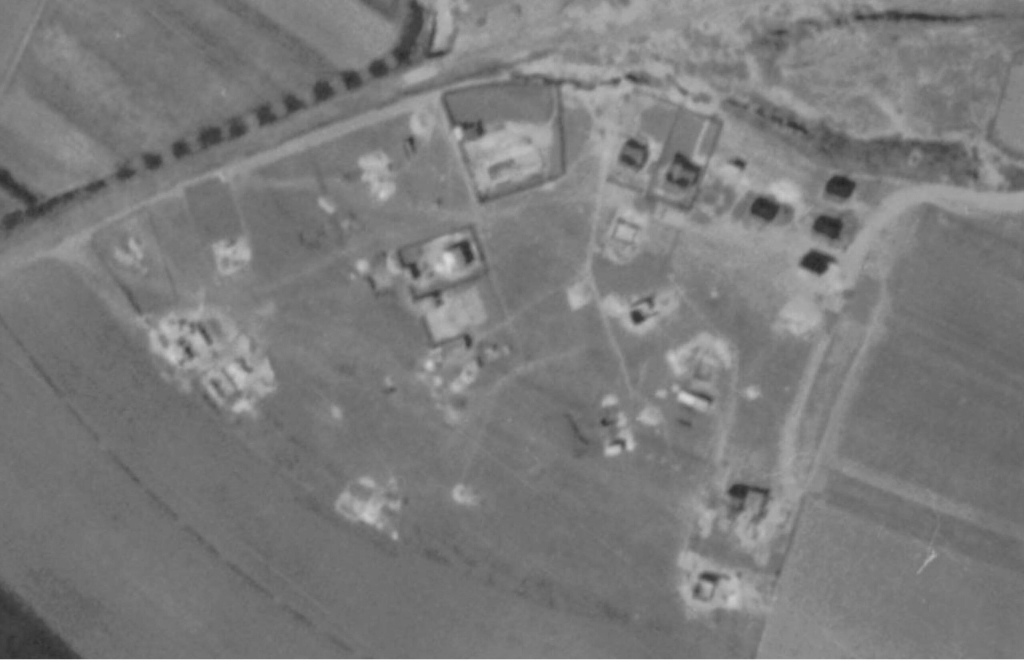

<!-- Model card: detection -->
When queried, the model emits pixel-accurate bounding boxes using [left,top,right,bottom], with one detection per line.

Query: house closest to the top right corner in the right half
[824,177,854,201]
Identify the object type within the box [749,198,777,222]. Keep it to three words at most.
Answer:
house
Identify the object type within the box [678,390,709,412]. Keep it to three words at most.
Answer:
barn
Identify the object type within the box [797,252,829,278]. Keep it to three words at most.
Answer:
house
